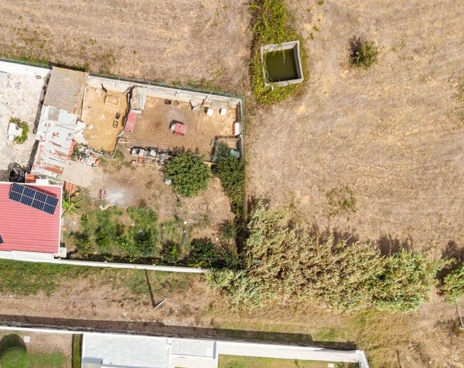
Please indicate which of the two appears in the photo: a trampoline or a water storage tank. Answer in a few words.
water storage tank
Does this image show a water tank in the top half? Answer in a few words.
Yes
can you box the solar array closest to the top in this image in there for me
[9,183,58,214]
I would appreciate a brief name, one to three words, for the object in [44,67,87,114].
shed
